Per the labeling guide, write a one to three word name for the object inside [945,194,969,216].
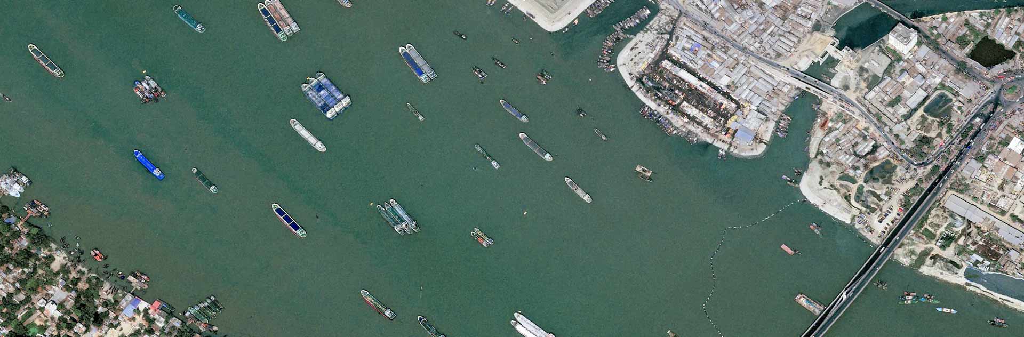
building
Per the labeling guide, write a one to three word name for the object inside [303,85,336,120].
ship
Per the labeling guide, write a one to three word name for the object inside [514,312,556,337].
ship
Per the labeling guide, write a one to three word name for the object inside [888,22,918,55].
building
